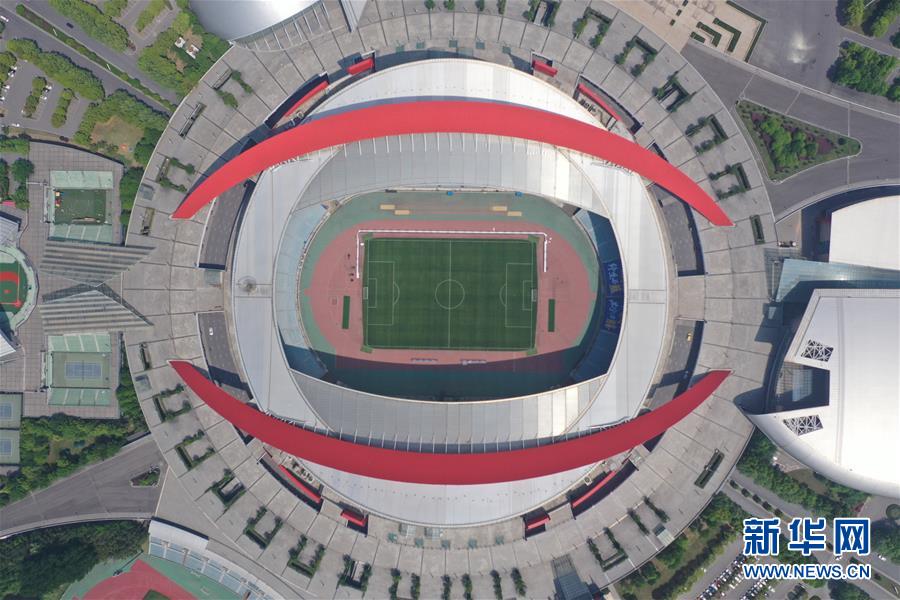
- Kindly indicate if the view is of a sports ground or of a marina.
sports ground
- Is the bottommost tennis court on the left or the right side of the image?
left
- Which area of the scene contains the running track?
center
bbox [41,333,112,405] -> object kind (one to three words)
tennis court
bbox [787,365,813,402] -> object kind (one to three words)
building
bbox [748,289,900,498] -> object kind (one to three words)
building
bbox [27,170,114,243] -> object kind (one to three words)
tennis court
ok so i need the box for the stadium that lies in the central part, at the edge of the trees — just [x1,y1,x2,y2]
[167,56,735,528]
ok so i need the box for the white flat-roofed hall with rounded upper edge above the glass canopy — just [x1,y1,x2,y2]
[816,195,900,271]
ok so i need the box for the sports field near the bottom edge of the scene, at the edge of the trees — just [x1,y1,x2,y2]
[66,551,238,600]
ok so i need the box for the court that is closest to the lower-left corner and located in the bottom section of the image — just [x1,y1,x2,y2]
[0,428,24,465]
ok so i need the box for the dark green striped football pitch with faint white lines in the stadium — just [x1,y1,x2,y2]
[362,237,536,351]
